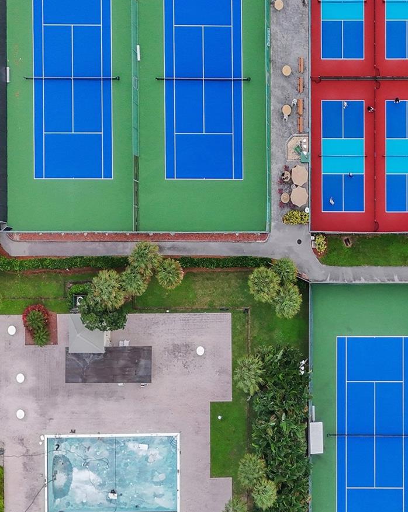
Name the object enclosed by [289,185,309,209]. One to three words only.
umbrella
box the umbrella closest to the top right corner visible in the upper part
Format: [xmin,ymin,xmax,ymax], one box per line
[290,164,309,187]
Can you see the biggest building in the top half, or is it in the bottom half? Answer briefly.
bottom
